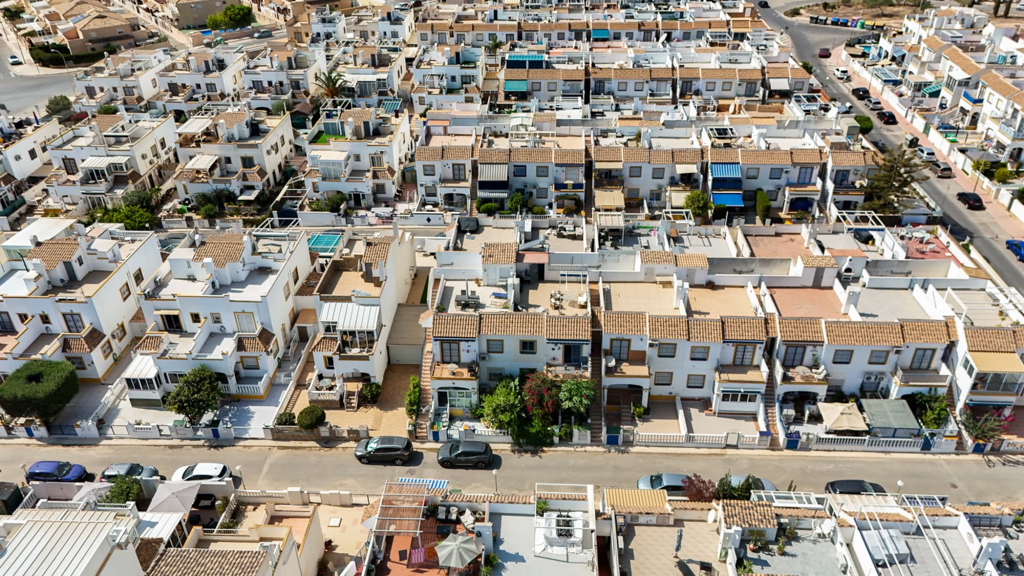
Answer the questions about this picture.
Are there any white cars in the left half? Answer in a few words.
Yes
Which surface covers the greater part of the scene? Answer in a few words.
buildings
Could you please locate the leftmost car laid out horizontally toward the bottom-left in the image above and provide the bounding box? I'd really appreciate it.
[26,460,90,481]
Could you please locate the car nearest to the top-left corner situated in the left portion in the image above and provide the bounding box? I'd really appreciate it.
[7,54,22,66]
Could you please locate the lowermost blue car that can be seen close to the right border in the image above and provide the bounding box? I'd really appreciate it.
[1002,240,1024,264]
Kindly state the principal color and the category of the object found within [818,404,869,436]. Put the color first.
white umbrella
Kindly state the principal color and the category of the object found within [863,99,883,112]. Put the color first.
gray vehicle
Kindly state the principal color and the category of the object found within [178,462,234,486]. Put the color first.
white car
